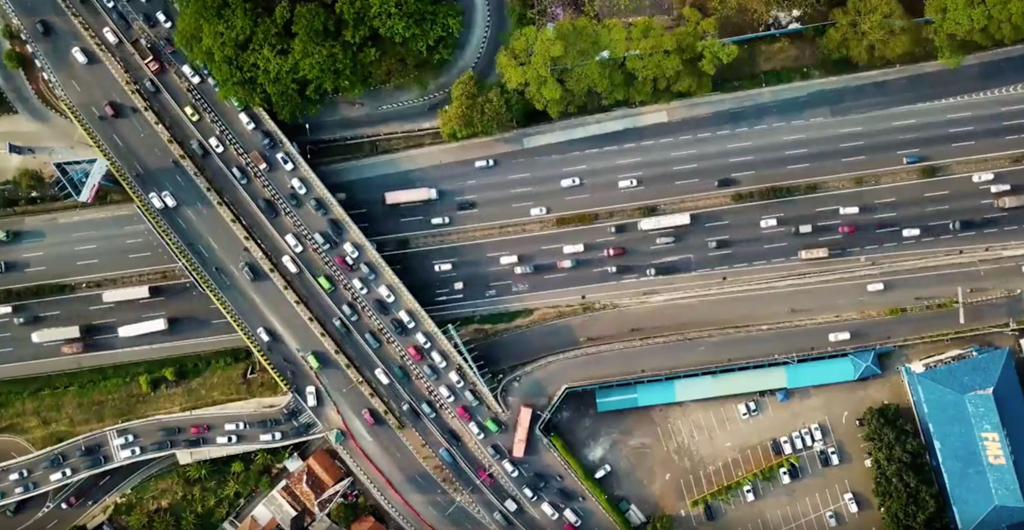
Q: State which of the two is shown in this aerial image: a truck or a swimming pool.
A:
truck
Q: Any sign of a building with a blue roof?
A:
Yes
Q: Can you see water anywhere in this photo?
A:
No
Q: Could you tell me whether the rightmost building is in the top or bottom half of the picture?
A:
bottom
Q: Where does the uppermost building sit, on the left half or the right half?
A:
right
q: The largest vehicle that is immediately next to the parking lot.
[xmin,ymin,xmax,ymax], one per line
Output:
[510,403,534,460]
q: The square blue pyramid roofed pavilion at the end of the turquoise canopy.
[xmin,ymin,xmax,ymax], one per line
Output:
[843,347,894,381]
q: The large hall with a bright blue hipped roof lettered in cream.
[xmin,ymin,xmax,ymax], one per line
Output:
[900,346,1024,530]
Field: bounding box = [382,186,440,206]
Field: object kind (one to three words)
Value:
vehicle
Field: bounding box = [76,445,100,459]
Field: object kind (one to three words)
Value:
car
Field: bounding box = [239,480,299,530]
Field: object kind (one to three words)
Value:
house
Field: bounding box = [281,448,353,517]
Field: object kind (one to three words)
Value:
house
